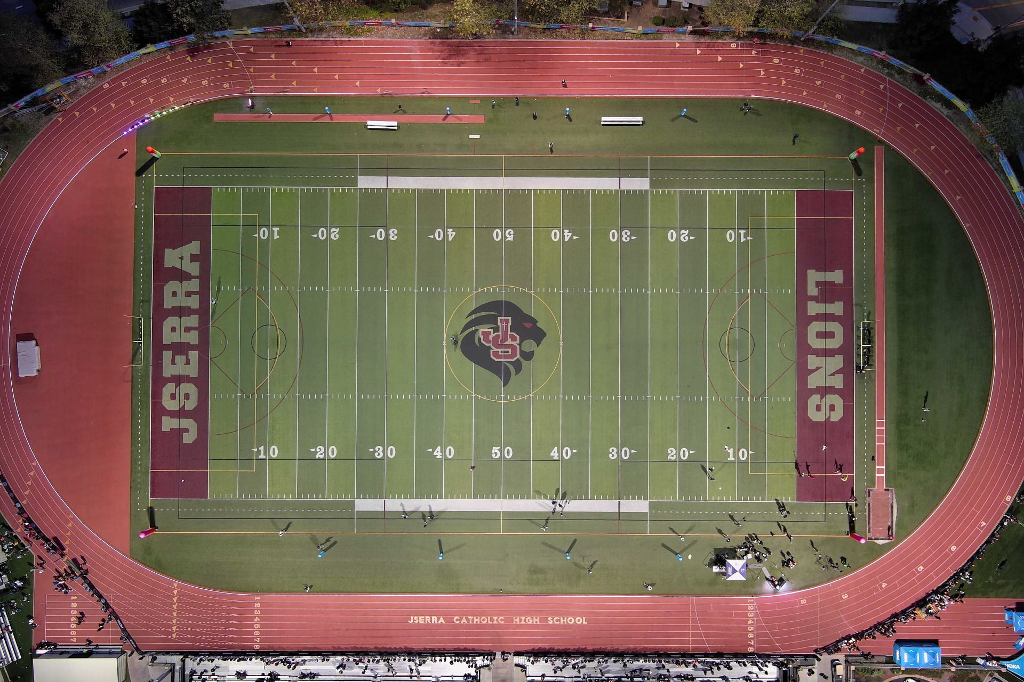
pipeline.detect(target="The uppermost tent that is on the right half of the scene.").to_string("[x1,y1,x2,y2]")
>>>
[722,556,746,580]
